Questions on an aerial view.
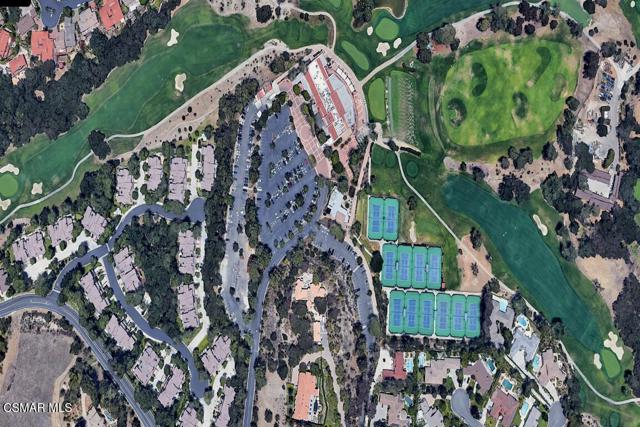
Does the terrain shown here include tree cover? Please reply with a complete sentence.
Yes, there is tree cover in the image.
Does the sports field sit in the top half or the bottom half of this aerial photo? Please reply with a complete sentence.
It is in the top half that the sports field appears.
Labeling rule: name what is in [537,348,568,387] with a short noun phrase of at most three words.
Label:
house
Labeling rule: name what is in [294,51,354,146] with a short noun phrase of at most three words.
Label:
building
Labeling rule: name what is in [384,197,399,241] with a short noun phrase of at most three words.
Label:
tennis court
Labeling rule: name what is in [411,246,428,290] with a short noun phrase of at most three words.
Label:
tennis court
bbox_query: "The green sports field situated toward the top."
[429,38,581,154]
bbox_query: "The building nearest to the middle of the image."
[329,190,349,223]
